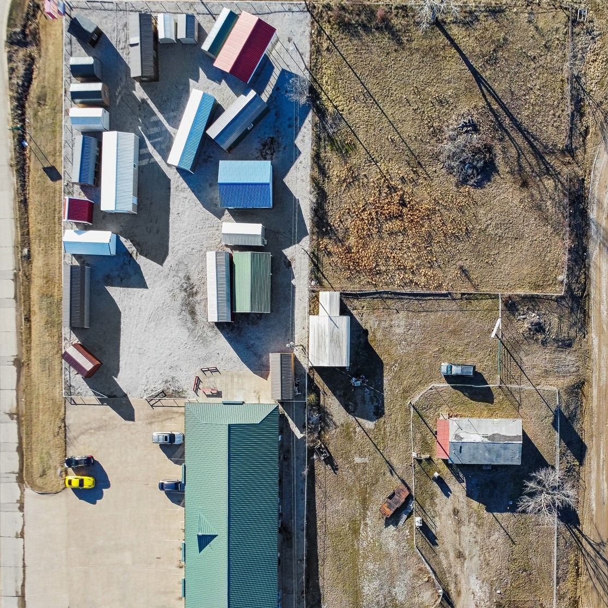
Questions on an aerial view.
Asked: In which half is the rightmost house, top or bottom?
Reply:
bottom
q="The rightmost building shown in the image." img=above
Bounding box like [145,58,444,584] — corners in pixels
[437,419,522,464]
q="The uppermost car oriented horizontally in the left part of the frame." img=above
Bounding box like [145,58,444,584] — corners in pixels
[150,431,181,445]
